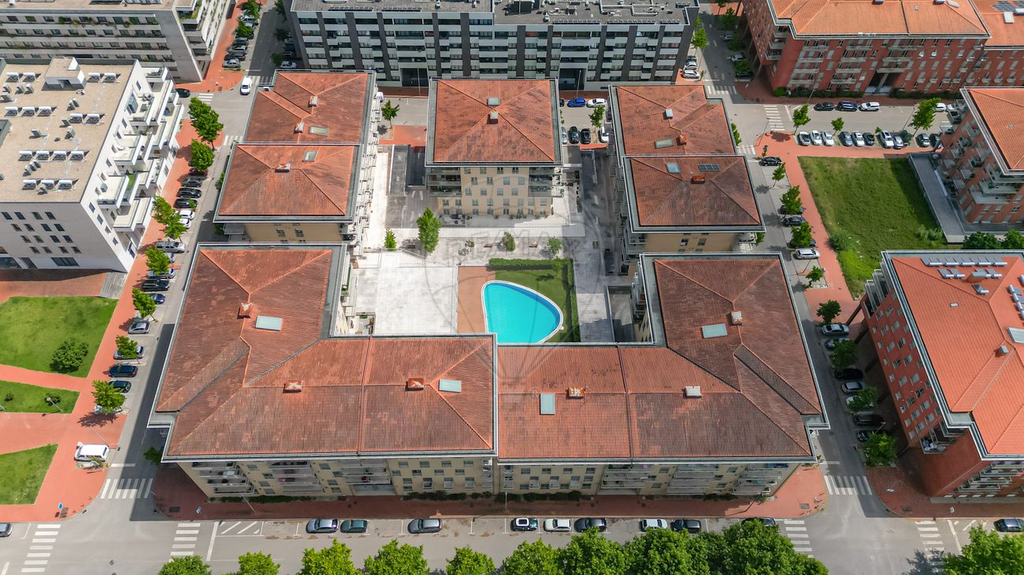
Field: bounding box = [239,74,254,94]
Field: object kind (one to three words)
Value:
vehicle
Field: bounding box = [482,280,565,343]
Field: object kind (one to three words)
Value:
swimming pool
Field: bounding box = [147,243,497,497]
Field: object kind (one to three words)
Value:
building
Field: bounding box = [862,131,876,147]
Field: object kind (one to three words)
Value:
car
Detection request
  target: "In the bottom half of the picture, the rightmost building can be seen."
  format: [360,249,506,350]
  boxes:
[851,251,1024,503]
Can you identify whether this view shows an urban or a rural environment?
urban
